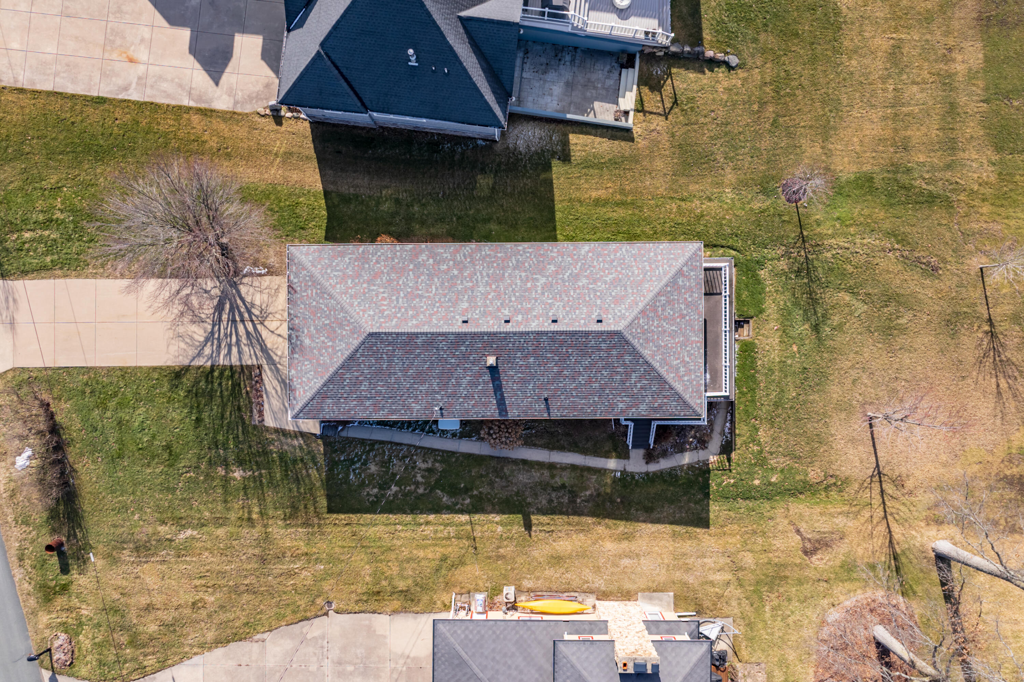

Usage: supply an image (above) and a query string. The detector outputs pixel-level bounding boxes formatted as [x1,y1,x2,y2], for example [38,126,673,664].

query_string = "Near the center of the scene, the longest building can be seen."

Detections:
[286,239,707,430]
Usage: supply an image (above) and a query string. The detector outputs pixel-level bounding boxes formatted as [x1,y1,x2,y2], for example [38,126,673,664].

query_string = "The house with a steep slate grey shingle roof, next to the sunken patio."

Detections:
[275,0,523,149]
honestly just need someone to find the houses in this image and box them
[275,0,523,149]
[286,239,707,430]
[431,598,713,682]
